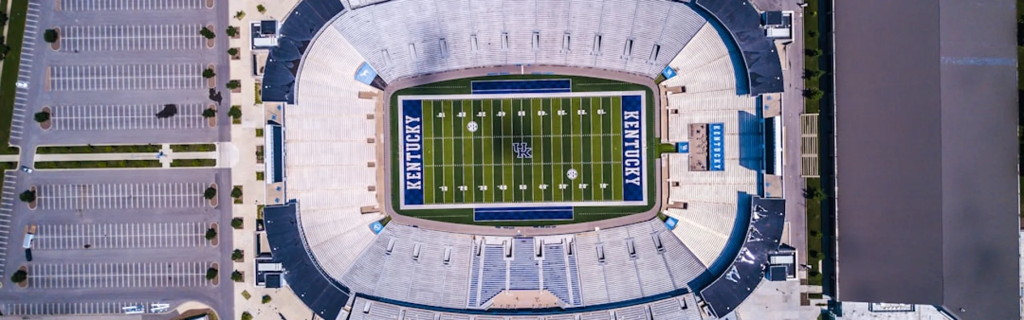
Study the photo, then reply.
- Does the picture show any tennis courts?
No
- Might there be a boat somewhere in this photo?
No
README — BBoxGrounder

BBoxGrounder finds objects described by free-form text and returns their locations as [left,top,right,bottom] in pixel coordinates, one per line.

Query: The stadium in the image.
[251,0,799,320]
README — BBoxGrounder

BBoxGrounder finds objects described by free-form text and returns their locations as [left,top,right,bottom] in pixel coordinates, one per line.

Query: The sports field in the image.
[389,74,656,225]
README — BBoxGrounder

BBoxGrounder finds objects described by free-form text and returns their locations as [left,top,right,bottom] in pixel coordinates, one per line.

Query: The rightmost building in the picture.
[824,0,1022,320]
